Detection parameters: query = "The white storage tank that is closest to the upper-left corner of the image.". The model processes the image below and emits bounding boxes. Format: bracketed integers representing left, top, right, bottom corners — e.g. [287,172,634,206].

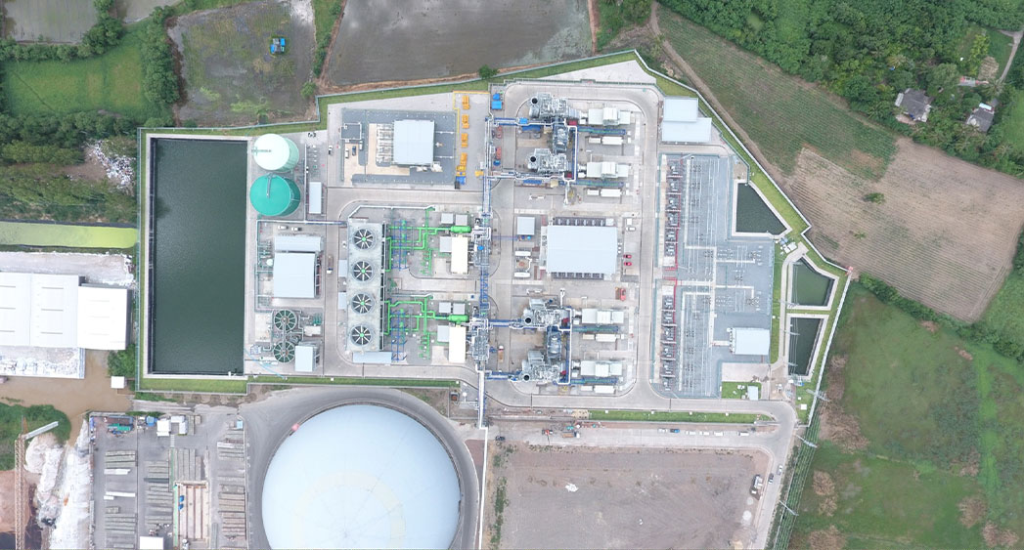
[251,133,298,174]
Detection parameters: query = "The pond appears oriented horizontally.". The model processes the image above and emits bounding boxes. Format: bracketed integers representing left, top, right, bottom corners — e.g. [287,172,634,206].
[0,222,136,249]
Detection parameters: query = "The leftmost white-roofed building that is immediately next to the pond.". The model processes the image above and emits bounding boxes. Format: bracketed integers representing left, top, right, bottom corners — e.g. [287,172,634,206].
[0,271,32,347]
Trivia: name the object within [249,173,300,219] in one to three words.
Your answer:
storage tank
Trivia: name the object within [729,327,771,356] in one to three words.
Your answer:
building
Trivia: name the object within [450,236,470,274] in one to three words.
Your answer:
house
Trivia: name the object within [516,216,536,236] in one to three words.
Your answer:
house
